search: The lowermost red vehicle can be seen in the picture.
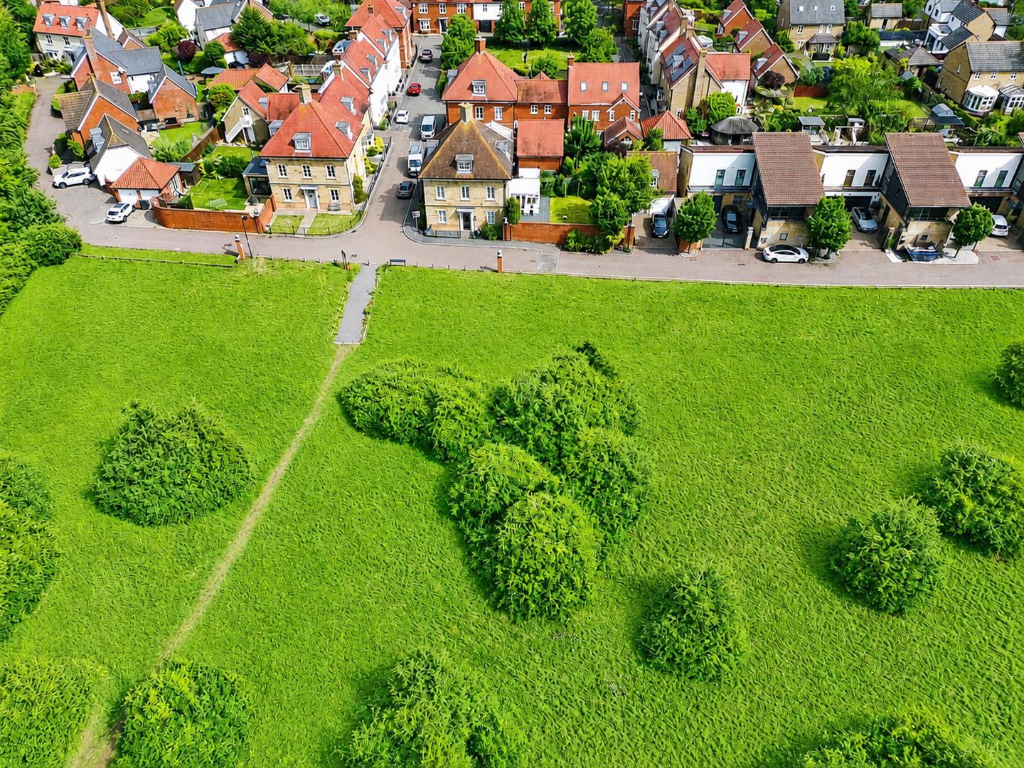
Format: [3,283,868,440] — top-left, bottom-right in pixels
[405,84,421,98]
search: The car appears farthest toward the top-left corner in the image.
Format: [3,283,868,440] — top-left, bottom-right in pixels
[50,165,94,187]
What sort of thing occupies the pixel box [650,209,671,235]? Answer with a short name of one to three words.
car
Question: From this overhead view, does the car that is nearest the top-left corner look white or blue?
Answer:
white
